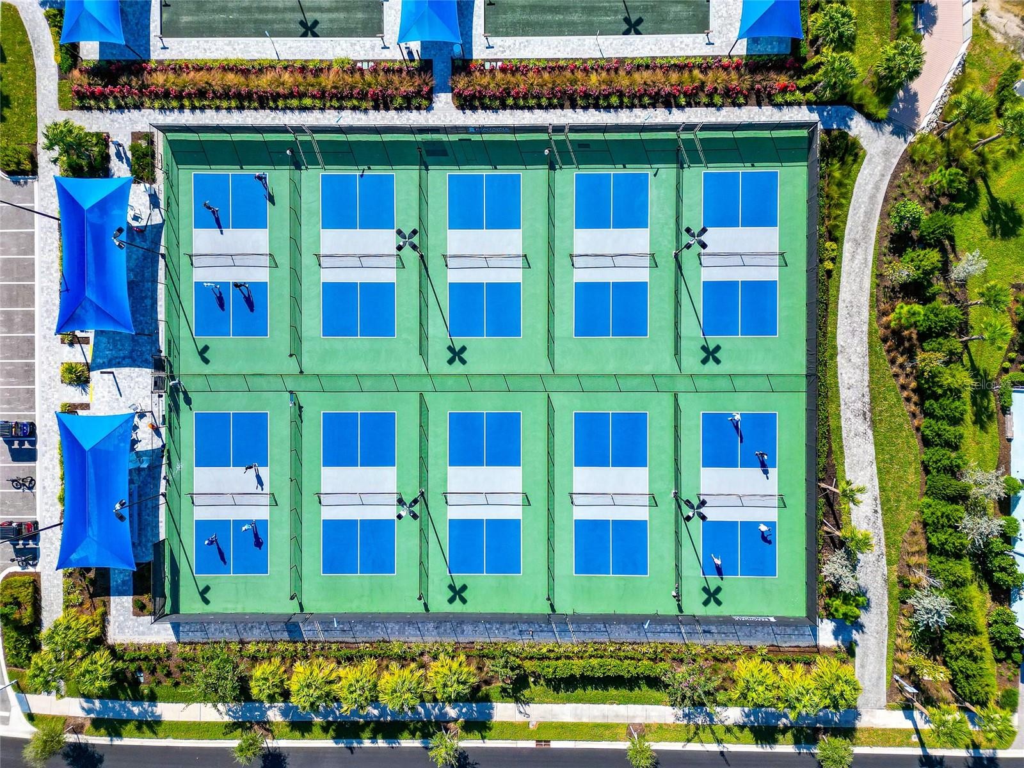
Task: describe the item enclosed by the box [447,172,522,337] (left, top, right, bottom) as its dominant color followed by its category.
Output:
blue sports court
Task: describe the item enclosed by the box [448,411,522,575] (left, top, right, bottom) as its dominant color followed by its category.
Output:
blue sports court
